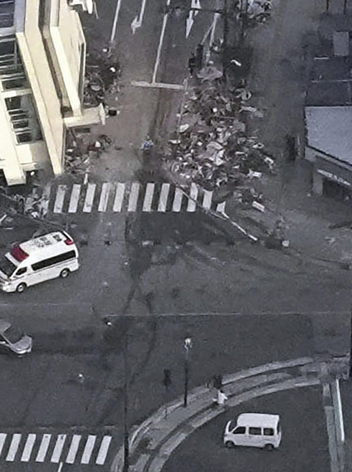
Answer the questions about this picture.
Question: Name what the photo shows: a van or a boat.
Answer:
van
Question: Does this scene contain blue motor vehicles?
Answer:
No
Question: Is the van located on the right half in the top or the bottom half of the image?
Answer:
bottom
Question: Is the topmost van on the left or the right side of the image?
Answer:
left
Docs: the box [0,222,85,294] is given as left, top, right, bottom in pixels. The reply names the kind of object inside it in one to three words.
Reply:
van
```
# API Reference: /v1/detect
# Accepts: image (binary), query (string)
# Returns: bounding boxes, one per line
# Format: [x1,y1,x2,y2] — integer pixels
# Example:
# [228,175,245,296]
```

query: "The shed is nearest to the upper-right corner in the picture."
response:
[303,63,352,107]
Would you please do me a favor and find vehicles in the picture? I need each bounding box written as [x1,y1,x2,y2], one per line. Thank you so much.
[0,222,85,294]
[0,317,40,359]
[223,410,282,451]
